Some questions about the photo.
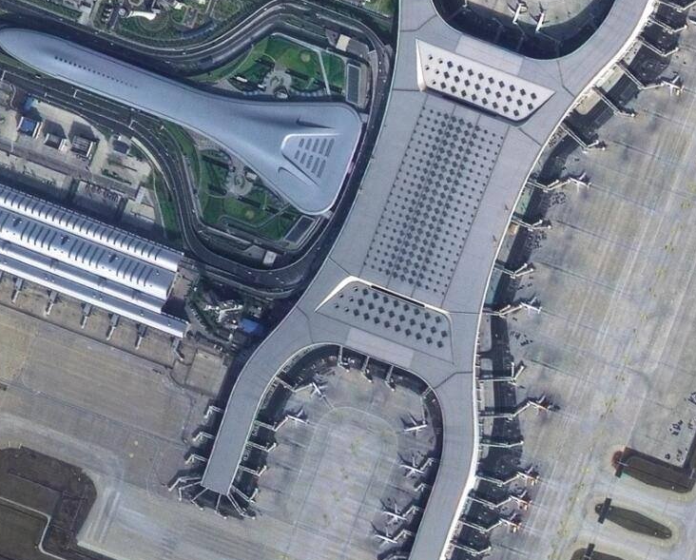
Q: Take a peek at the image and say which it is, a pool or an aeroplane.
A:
aeroplane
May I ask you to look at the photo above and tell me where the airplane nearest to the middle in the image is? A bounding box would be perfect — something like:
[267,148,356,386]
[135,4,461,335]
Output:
[313,381,327,401]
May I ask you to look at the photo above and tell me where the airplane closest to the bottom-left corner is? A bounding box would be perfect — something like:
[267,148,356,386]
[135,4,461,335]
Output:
[287,410,309,431]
